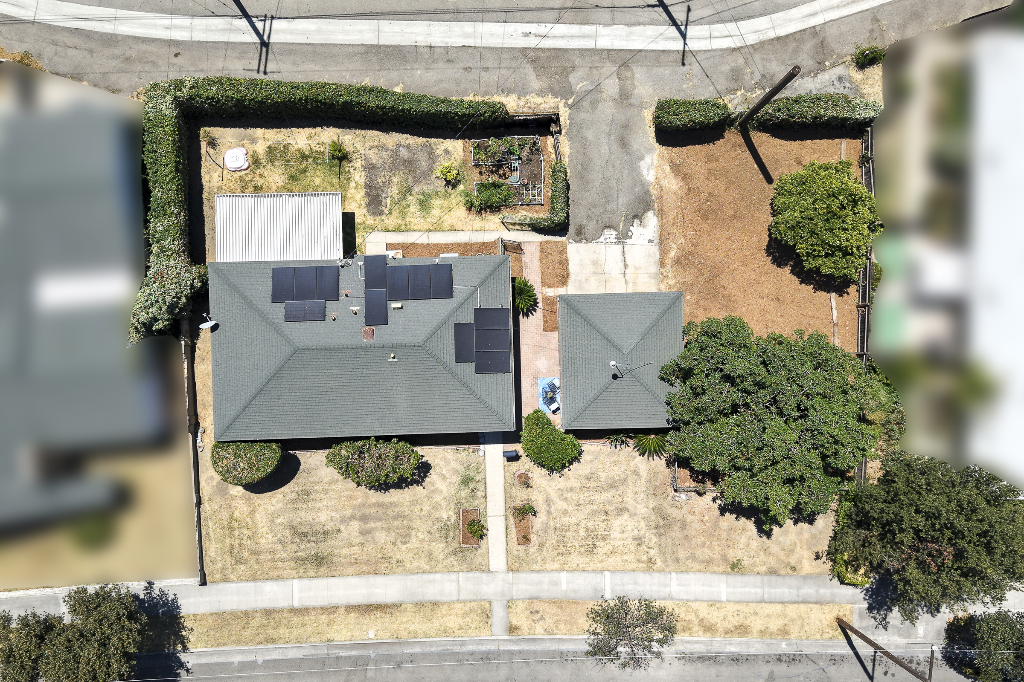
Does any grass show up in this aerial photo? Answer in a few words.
Yes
